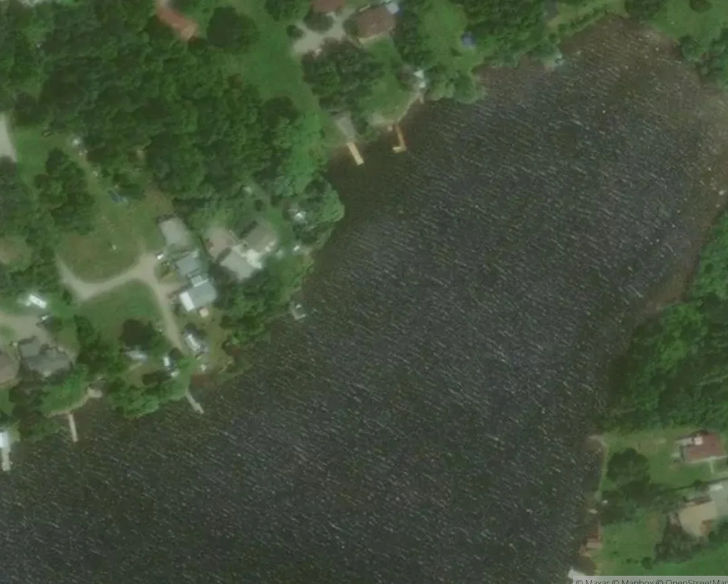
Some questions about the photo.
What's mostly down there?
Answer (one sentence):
The largest share of the image is taken up by water.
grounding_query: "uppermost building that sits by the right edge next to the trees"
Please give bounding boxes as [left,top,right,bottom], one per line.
[674,432,728,464]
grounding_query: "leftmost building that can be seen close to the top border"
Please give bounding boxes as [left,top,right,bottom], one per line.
[159,7,199,41]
